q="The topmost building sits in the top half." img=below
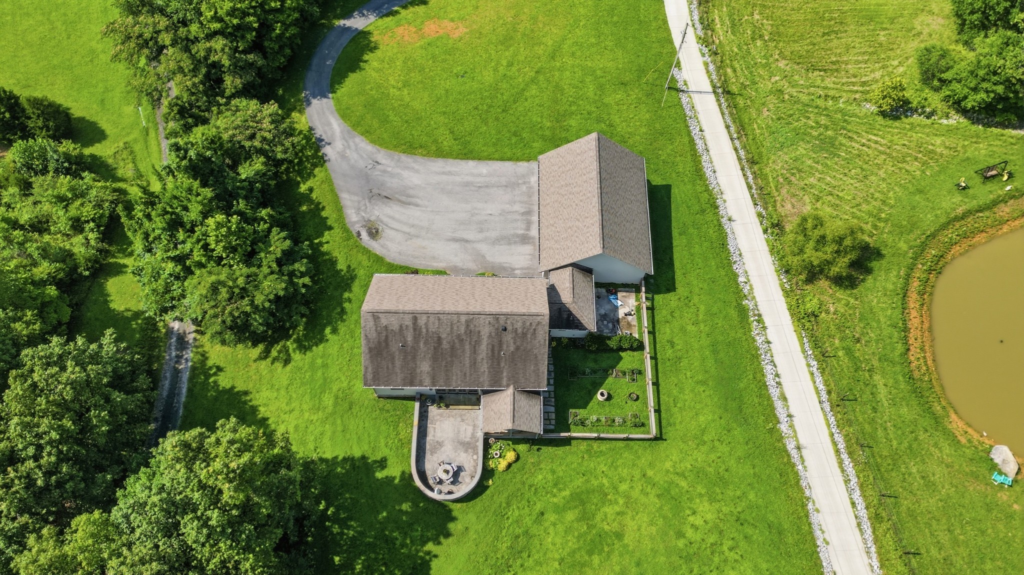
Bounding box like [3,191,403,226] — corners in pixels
[537,132,655,284]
